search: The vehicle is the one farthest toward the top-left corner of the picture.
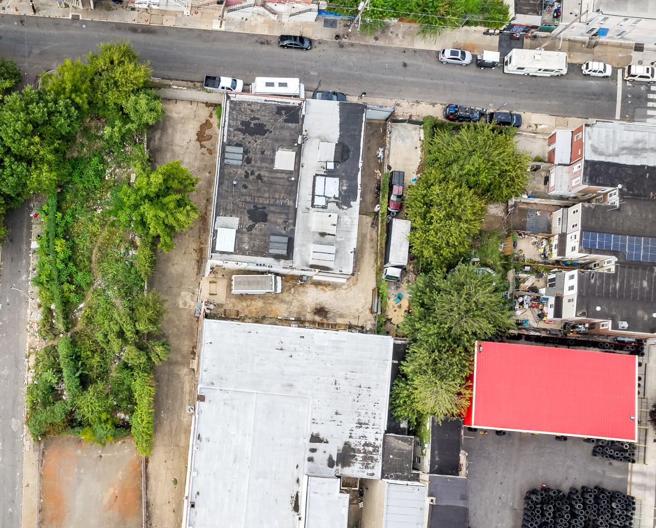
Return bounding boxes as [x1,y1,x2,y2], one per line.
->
[204,74,242,93]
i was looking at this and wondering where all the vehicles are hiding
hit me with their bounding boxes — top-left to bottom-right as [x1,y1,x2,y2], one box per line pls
[580,61,609,78]
[312,90,346,103]
[278,34,310,52]
[382,215,411,281]
[388,169,406,215]
[486,111,521,126]
[227,274,278,294]
[504,49,571,77]
[246,74,301,99]
[438,49,470,65]
[442,104,478,122]
[204,74,242,93]
[622,65,656,83]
